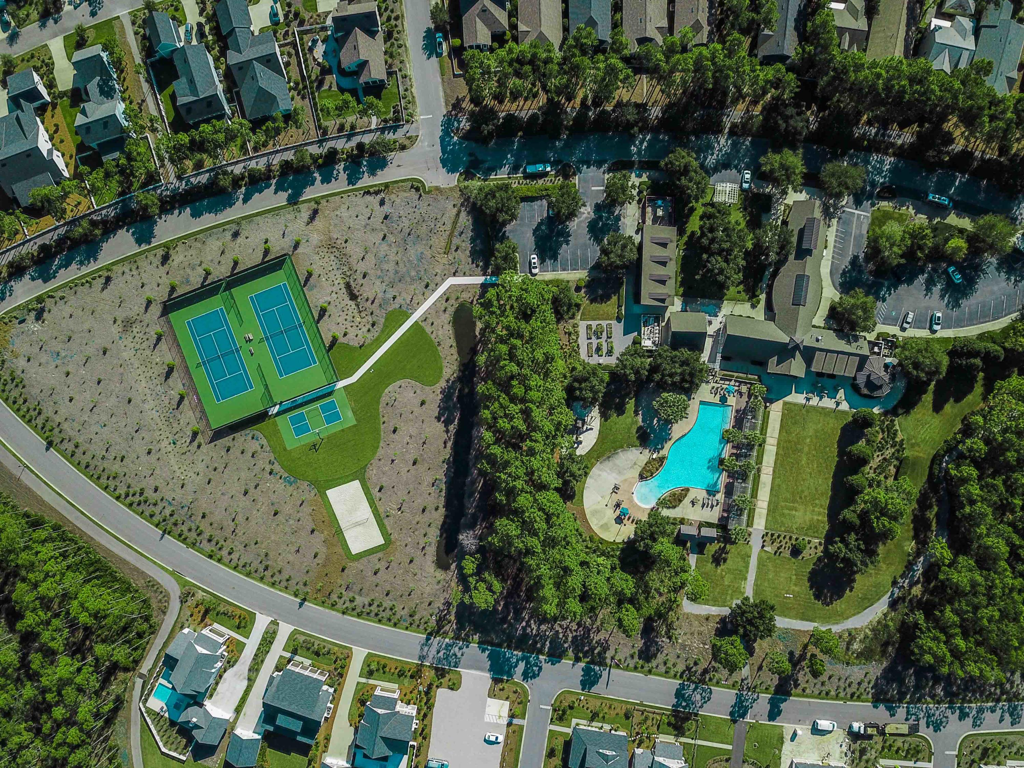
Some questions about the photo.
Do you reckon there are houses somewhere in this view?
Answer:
Yes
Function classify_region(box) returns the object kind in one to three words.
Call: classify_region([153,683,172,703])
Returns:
swimming pool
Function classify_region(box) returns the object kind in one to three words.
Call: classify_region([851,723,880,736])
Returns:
vehicle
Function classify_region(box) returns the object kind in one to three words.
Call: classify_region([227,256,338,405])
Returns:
tennis court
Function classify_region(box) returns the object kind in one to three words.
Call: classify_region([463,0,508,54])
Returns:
house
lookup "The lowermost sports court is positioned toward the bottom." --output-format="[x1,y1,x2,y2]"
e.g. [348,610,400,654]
[326,480,384,554]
